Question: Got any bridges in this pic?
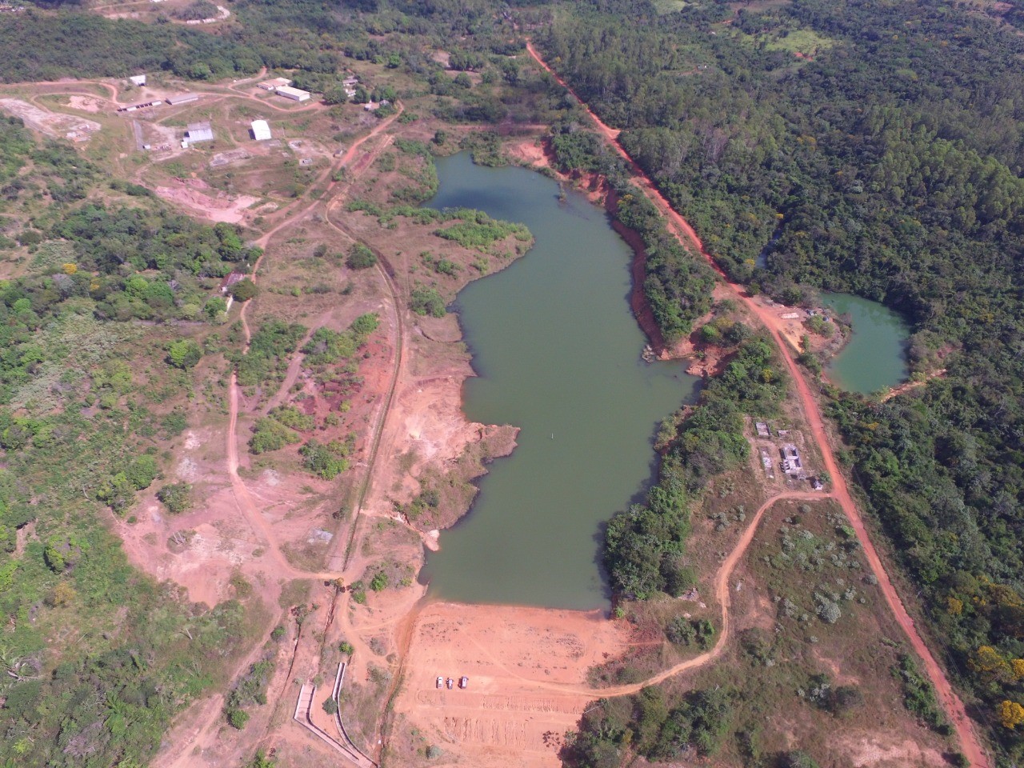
No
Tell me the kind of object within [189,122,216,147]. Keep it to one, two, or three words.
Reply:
shed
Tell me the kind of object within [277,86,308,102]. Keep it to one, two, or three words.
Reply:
hangar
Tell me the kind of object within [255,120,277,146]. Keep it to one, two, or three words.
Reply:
building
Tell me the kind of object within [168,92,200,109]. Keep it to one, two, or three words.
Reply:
shed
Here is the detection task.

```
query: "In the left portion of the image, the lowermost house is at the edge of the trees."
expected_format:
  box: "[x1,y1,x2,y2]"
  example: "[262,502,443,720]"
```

[219,272,246,297]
